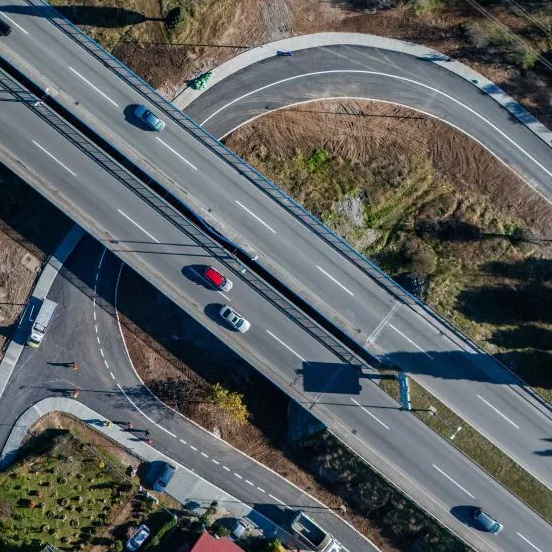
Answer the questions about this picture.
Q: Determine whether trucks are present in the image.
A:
Yes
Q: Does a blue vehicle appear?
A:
Yes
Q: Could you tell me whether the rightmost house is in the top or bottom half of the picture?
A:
bottom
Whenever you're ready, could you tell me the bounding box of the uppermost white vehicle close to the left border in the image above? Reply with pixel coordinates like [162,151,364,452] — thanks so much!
[25,296,60,351]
